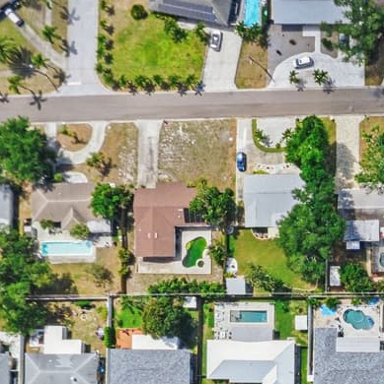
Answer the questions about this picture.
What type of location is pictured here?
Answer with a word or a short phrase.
residential area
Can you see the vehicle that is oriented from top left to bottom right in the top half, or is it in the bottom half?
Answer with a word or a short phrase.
top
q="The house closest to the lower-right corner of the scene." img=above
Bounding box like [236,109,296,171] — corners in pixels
[311,327,384,384]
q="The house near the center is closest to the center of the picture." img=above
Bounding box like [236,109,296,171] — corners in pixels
[128,183,208,258]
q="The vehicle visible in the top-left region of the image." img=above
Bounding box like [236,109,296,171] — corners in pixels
[2,6,24,27]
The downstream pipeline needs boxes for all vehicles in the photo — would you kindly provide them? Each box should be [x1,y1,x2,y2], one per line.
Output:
[293,54,313,66]
[2,6,24,27]
[236,152,246,171]
[339,28,348,47]
[209,29,221,50]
